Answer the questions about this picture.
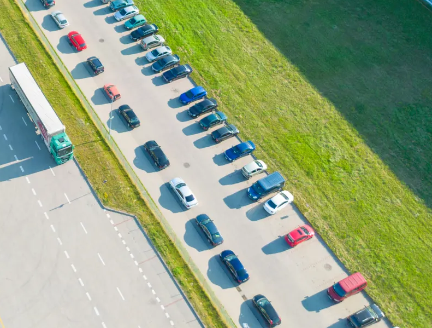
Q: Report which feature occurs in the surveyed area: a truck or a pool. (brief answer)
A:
truck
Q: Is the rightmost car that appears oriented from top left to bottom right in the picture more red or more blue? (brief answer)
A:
blue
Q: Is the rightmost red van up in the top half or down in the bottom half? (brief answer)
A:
bottom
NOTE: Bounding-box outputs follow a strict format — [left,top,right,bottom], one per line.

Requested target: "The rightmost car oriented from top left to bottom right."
[251,294,283,328]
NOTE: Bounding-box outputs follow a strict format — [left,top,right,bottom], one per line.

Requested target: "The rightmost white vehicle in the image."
[260,192,295,215]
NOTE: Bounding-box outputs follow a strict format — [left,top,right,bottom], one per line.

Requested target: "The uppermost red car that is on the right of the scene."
[284,225,315,248]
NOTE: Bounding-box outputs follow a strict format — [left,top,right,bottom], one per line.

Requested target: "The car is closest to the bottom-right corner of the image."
[346,304,384,328]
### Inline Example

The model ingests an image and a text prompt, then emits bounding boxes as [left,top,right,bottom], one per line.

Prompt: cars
[67,33,87,52]
[114,6,139,22]
[179,87,207,106]
[162,65,192,83]
[194,215,225,249]
[346,304,384,328]
[102,84,122,104]
[208,124,240,144]
[116,105,142,131]
[197,112,228,131]
[41,0,57,11]
[145,46,172,63]
[85,56,107,78]
[223,141,257,163]
[237,159,269,181]
[260,192,295,215]
[50,11,70,31]
[284,225,315,248]
[138,35,165,52]
[144,141,171,170]
[110,0,133,13]
[219,250,252,286]
[124,15,146,30]
[187,99,219,120]
[170,178,197,210]
[251,294,283,328]
[150,56,181,74]
[129,25,159,42]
